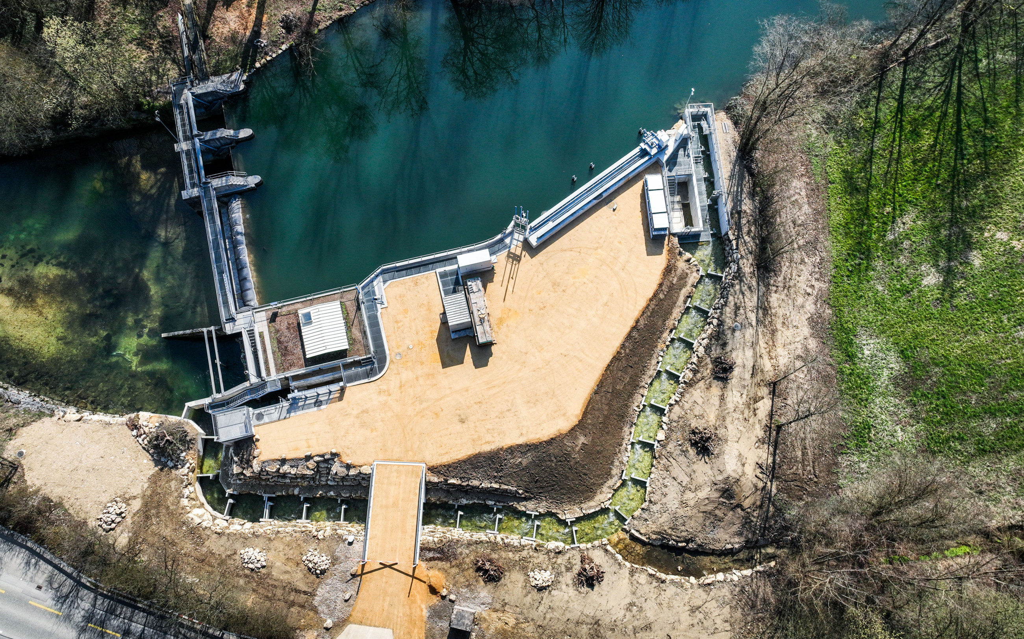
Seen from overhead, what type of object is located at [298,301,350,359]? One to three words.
building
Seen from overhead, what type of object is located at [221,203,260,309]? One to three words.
dam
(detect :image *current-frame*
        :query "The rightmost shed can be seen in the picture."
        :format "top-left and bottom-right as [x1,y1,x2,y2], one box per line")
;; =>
[443,292,473,340]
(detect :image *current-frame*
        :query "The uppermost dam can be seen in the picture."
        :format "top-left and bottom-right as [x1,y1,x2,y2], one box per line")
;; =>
[172,67,267,206]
